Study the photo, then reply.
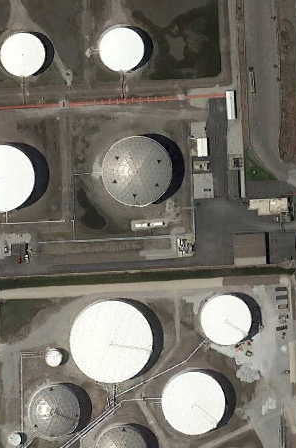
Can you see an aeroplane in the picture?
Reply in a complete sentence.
No, I can see no aeroplane in this picture.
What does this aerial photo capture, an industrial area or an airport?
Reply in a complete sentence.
This image shows an industrial area.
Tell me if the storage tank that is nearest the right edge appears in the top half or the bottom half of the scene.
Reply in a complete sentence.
The storage tank that is nearest the right edge sits in the bottom half of the picture.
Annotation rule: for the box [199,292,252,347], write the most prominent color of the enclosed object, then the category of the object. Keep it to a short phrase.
white storage tank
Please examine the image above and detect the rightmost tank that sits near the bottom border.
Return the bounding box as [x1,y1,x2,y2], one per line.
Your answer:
[159,367,226,436]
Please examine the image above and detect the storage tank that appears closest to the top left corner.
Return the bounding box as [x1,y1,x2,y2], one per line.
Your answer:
[0,29,46,77]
